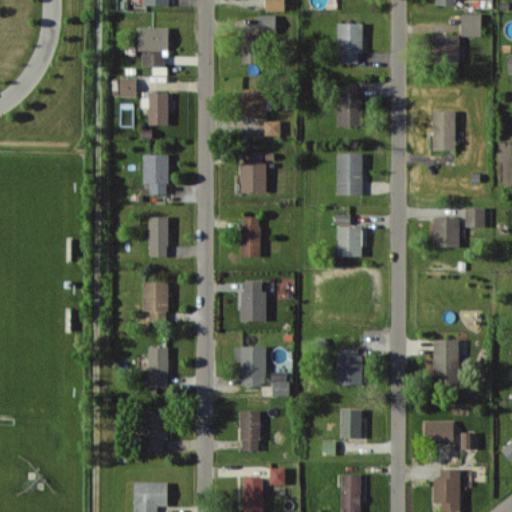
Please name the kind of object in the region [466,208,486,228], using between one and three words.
building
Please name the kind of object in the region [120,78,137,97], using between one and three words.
building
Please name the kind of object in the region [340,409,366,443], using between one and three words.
house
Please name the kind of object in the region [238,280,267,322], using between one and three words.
house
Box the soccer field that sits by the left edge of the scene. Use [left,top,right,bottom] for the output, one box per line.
[0,154,82,512]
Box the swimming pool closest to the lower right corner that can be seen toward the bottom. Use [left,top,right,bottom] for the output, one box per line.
[444,311,459,325]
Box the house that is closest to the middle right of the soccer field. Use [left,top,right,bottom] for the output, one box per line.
[240,216,262,258]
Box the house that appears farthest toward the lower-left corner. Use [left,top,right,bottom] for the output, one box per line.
[133,482,168,512]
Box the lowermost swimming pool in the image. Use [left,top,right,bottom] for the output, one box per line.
[272,348,289,364]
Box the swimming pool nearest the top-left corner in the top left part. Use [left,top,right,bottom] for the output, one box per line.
[120,103,134,128]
